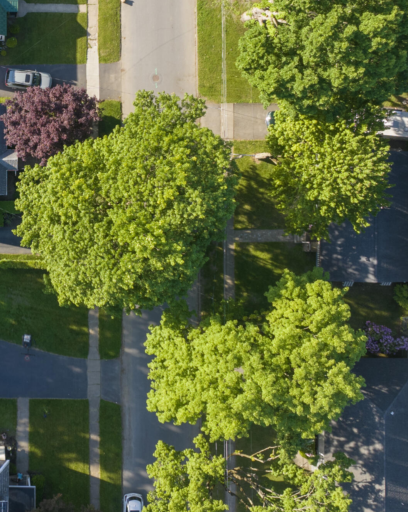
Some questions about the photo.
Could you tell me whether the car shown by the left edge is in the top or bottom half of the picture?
top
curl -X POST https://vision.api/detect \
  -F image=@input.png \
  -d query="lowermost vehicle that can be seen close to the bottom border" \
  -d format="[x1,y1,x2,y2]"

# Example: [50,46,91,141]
[123,491,144,512]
